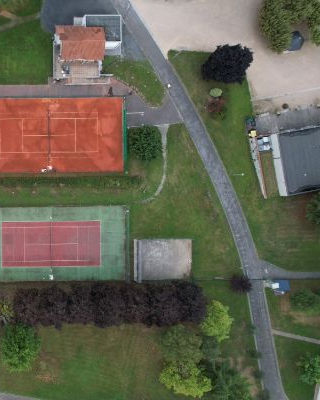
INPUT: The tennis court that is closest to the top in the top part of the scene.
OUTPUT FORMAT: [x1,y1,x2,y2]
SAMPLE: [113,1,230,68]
[0,97,124,174]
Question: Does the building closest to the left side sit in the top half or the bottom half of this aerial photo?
top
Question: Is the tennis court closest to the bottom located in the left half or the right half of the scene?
left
